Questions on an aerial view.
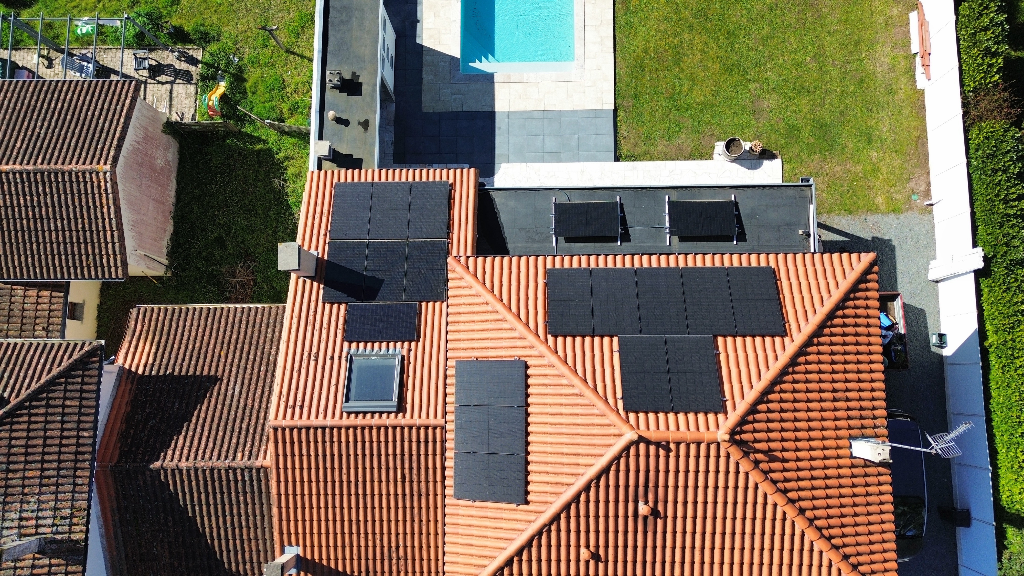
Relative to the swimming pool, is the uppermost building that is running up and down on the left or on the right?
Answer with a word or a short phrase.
to its left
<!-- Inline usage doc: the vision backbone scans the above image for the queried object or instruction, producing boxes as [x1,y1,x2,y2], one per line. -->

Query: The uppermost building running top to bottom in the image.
[309,0,394,170]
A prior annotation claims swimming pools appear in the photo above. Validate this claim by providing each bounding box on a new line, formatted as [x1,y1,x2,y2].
[459,0,575,73]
